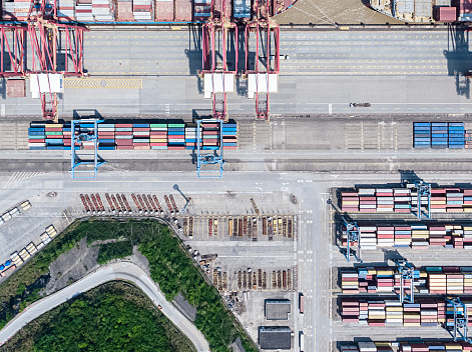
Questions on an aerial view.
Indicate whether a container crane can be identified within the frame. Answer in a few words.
Yes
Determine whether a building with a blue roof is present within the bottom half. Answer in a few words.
No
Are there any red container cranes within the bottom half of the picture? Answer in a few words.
No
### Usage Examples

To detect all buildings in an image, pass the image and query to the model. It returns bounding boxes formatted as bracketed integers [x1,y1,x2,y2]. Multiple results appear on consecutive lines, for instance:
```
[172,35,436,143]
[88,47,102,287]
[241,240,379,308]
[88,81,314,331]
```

[266,297,290,320]
[260,323,294,350]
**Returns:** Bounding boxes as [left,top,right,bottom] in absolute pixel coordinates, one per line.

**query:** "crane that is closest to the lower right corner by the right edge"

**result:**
[439,293,467,341]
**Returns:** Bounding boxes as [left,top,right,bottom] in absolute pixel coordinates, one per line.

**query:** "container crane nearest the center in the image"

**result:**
[197,117,226,178]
